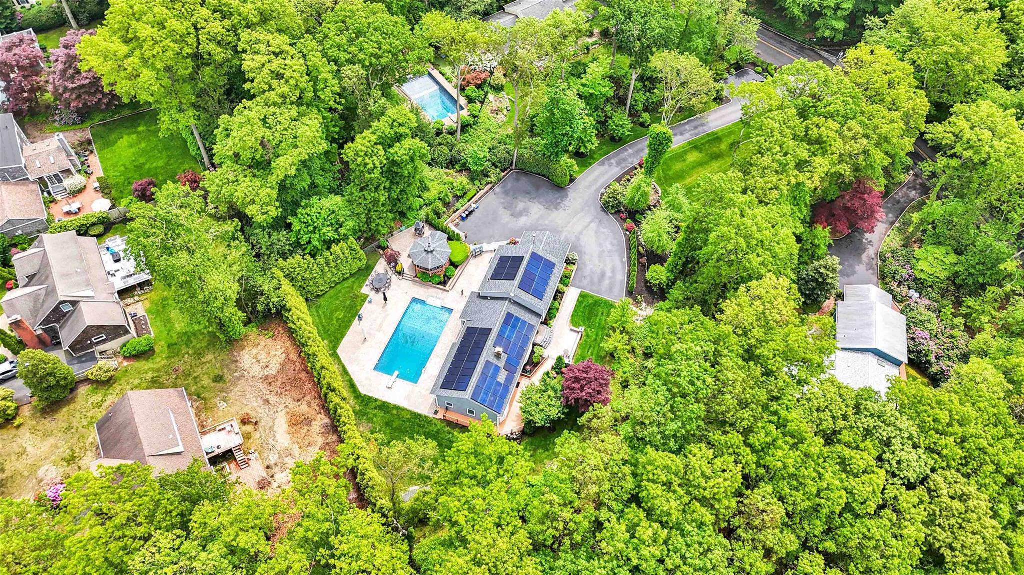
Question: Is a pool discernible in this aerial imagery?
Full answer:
Yes, the frame does contain a pool.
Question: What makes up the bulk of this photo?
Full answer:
The scene is dominated by trees.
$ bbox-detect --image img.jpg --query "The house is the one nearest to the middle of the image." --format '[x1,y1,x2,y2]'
[428,229,572,425]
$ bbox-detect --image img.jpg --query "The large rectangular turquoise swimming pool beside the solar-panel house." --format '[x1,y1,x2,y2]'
[371,294,456,386]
